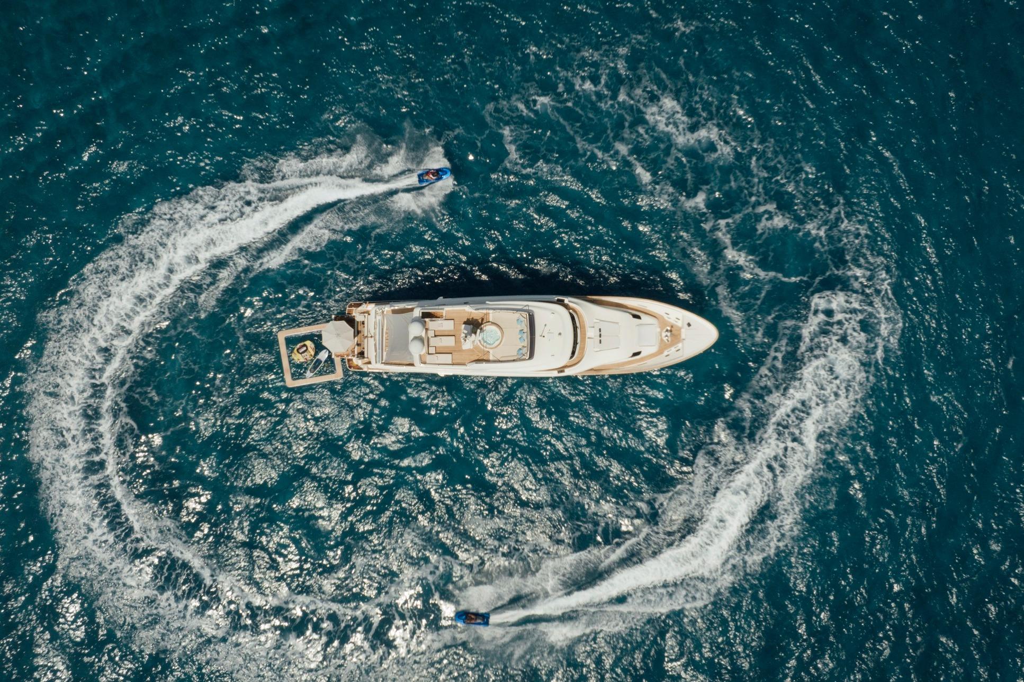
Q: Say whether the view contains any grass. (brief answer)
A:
No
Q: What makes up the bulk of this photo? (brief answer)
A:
water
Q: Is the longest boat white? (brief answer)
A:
Yes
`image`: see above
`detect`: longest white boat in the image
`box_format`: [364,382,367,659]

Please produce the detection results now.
[332,295,719,377]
